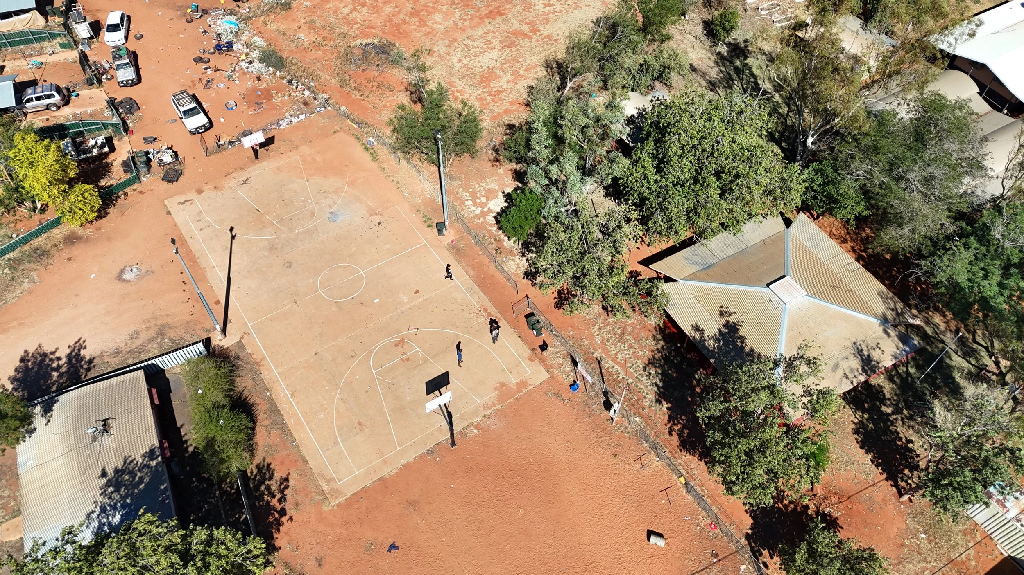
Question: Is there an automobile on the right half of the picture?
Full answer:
No, no automobile appears on the right half of the picture.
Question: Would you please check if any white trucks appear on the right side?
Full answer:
No, I see no white truck on the right side.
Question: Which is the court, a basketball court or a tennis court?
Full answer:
What you see as the court is a basketball court.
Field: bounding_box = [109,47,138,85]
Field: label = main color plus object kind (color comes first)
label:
white truck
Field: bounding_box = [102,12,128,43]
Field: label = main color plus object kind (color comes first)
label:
white car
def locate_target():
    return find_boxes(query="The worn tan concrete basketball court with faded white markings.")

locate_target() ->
[165,132,553,505]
